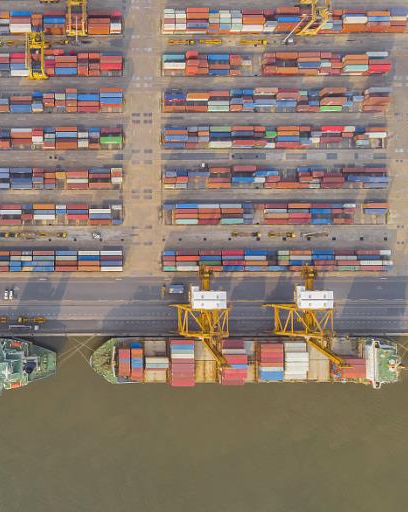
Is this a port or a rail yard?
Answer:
port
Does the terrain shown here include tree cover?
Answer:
No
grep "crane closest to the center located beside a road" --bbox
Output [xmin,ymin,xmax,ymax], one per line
[172,263,234,367]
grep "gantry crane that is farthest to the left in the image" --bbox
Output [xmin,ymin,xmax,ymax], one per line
[28,29,50,81]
